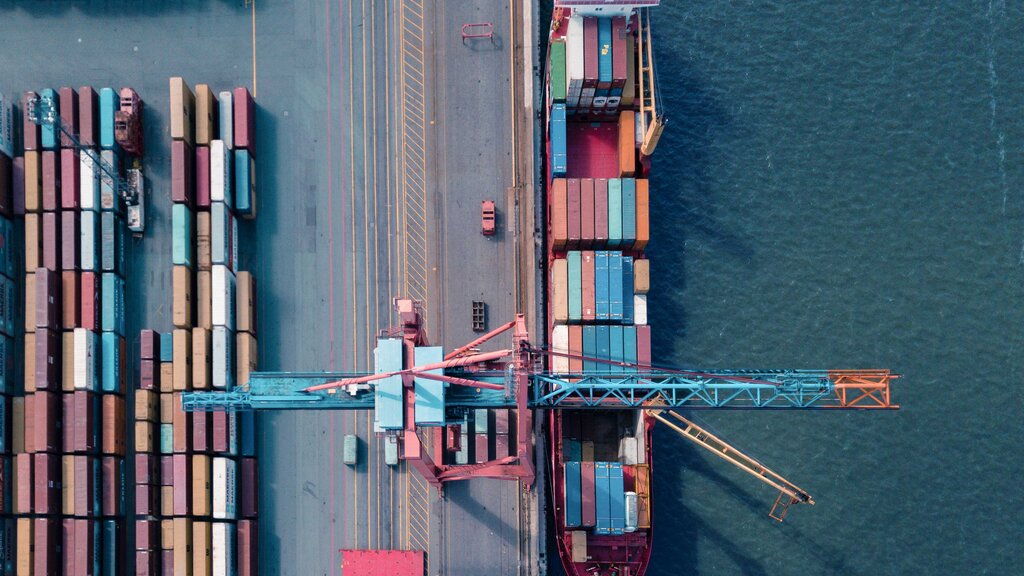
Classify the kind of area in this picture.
port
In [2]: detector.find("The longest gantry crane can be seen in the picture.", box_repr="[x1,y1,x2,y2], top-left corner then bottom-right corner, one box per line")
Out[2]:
[181,298,900,497]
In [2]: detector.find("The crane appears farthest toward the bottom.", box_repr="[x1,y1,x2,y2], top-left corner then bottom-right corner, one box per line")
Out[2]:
[640,402,816,525]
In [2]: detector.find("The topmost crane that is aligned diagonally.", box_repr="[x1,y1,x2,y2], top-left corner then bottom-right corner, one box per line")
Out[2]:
[28,97,150,238]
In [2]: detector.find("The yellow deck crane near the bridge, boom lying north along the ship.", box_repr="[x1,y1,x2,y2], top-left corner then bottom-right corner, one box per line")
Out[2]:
[634,2,668,179]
